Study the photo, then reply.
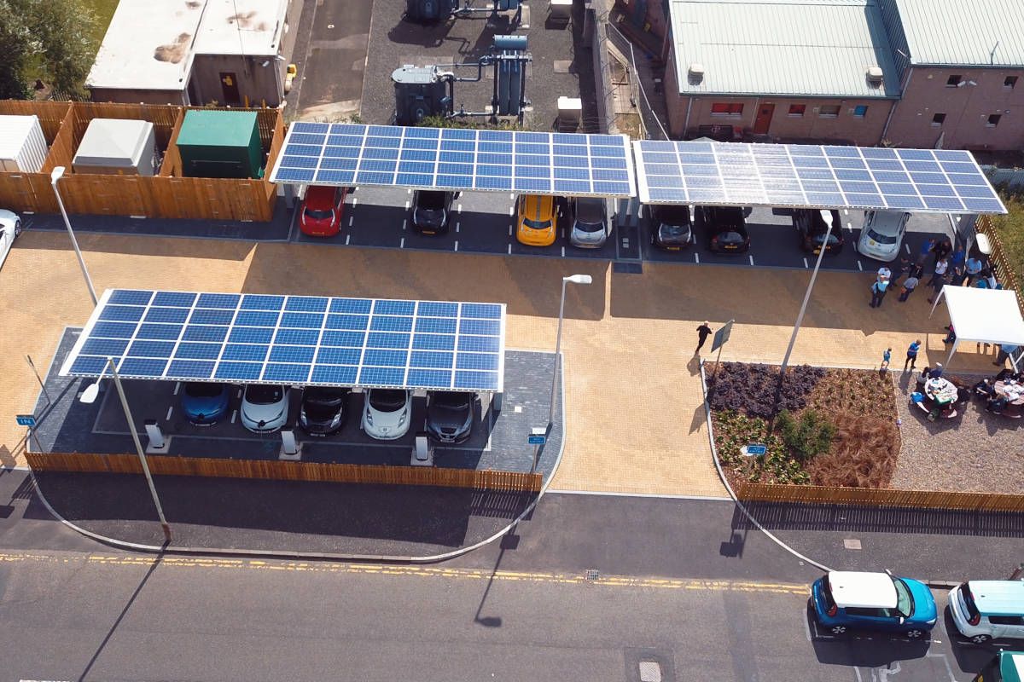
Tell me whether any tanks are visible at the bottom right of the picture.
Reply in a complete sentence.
No, I see no tank at the bottom right of the picture.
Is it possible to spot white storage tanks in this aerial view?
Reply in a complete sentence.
No, the frame has no white storage tank in it.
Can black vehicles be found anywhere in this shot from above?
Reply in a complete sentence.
Yes, the photo shows a black vehicle.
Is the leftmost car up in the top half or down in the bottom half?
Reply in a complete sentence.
You can find the leftmost car in the top half.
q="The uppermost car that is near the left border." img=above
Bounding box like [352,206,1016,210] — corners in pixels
[0,217,25,251]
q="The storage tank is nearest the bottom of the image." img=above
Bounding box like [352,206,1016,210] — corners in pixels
[391,80,439,125]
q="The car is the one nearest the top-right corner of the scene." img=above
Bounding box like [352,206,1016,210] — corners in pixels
[851,215,900,260]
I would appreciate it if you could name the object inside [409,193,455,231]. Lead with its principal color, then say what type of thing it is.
black car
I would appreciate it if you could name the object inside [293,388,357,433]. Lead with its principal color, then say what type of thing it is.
black car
